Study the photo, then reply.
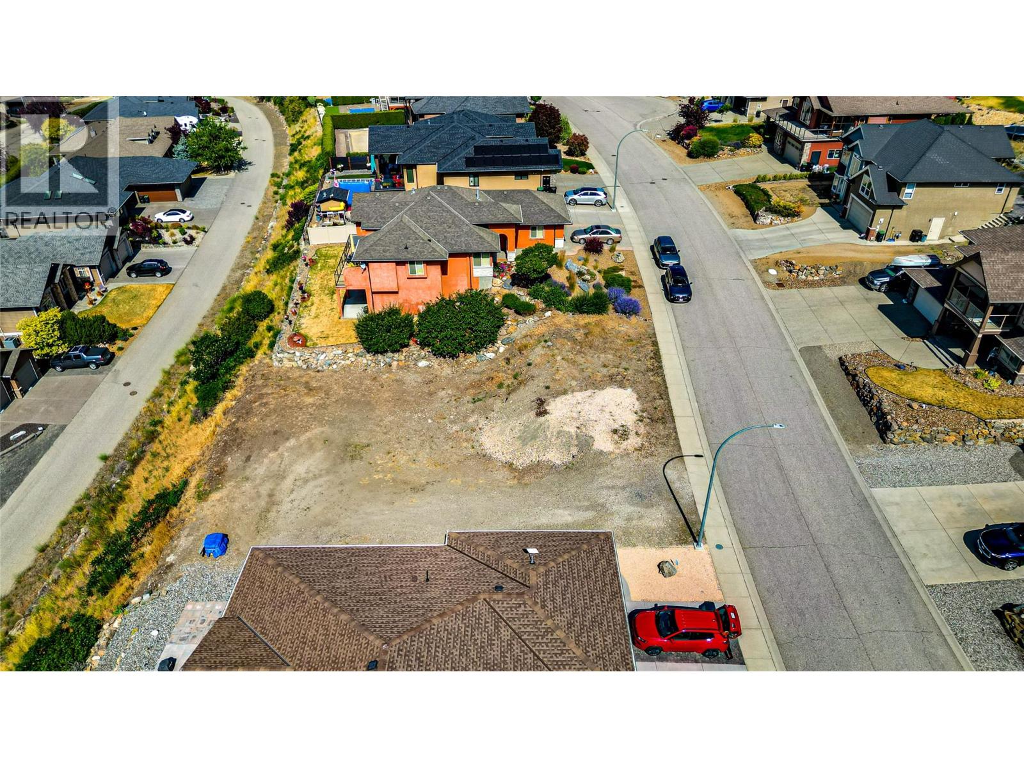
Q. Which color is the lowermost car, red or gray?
red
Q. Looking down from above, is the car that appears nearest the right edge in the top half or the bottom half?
bottom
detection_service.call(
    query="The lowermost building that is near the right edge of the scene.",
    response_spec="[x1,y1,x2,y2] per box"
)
[900,231,1024,389]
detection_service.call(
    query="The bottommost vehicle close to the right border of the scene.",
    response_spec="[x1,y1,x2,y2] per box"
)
[978,524,1024,567]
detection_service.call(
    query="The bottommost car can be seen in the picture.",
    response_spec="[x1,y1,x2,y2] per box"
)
[631,603,750,658]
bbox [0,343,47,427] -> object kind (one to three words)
house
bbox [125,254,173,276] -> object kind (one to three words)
car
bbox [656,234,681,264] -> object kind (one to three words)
car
